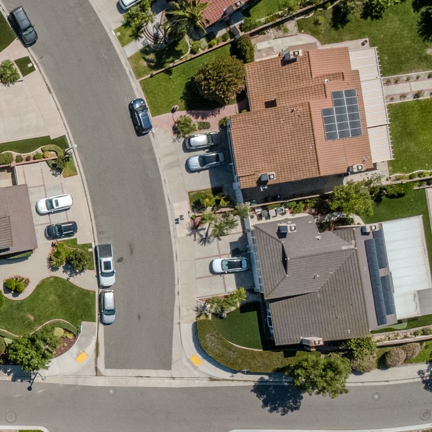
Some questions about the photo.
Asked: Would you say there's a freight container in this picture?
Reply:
No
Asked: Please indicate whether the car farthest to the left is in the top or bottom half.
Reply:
top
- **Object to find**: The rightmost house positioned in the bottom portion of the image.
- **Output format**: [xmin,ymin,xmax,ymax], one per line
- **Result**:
[246,215,398,347]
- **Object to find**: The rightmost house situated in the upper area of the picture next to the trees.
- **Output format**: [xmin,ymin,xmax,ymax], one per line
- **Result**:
[219,47,374,189]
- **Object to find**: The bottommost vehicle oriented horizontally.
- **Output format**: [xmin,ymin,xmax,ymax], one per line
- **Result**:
[209,257,248,274]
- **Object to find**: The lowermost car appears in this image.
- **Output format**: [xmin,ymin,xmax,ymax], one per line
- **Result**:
[99,290,117,324]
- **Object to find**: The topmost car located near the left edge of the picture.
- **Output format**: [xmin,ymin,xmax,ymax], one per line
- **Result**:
[8,7,35,45]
